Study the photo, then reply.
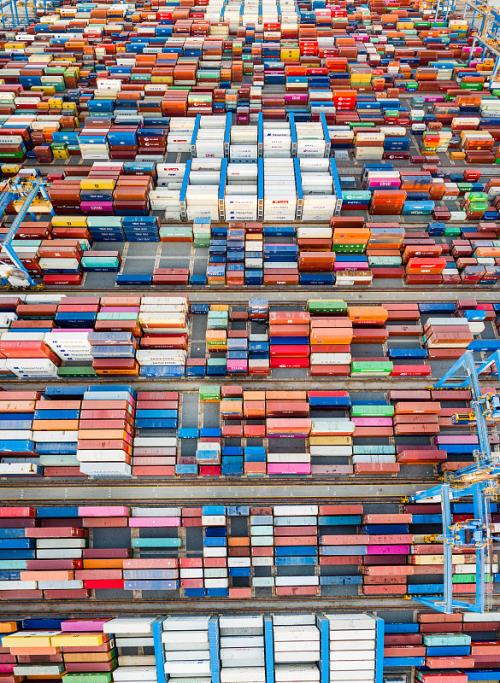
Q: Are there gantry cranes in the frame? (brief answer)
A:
Yes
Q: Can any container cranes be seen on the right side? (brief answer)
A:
Yes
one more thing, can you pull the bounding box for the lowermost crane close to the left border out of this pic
[0,179,57,292]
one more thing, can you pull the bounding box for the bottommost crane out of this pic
[400,490,500,627]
